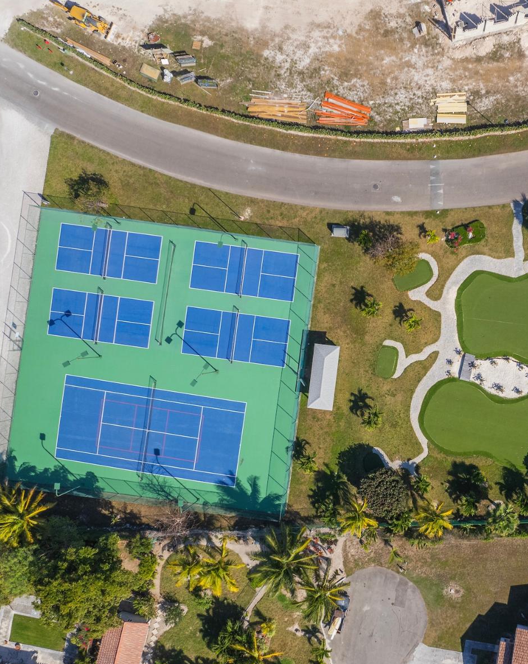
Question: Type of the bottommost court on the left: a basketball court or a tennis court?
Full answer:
I'd say the bottommost court on the left is a tennis court.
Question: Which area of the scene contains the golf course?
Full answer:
You can find the golf course in the right area of the picture.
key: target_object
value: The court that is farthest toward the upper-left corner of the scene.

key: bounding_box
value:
[55,223,162,284]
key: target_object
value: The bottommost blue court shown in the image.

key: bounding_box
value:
[55,374,247,487]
